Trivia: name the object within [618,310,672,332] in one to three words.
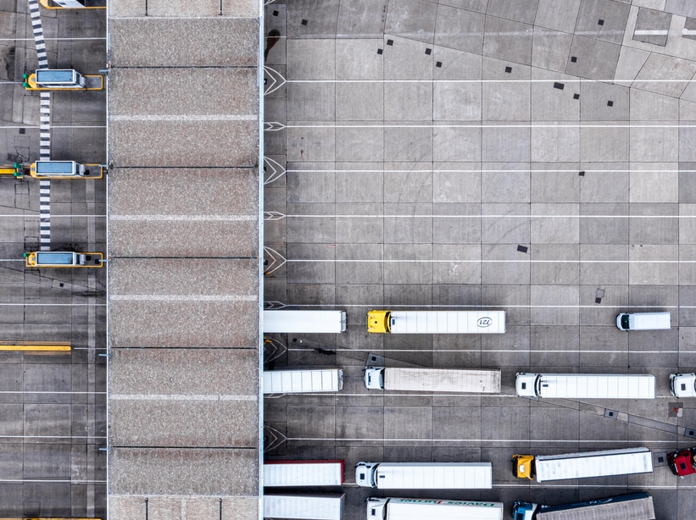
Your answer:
vehicle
